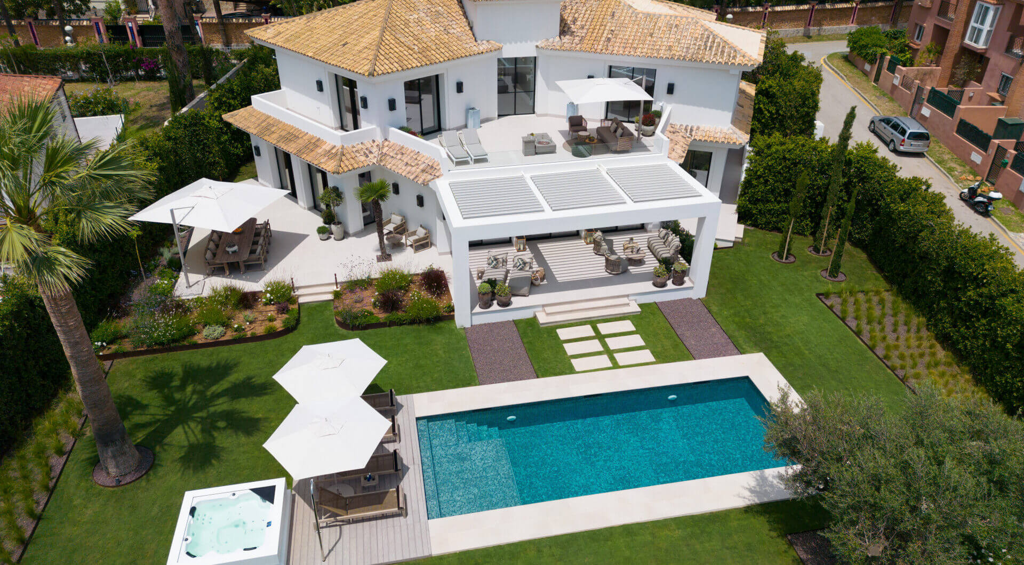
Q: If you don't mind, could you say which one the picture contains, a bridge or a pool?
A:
pool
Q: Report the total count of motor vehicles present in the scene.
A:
two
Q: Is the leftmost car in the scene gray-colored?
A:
Yes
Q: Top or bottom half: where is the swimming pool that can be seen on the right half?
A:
bottom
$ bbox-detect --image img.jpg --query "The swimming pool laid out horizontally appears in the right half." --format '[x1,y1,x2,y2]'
[413,352,873,556]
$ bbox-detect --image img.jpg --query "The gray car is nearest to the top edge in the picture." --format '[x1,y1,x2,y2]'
[870,110,940,153]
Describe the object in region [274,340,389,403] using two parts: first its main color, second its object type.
white umbrella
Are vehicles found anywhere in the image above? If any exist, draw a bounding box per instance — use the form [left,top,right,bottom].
[963,170,1001,214]
[870,110,940,153]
